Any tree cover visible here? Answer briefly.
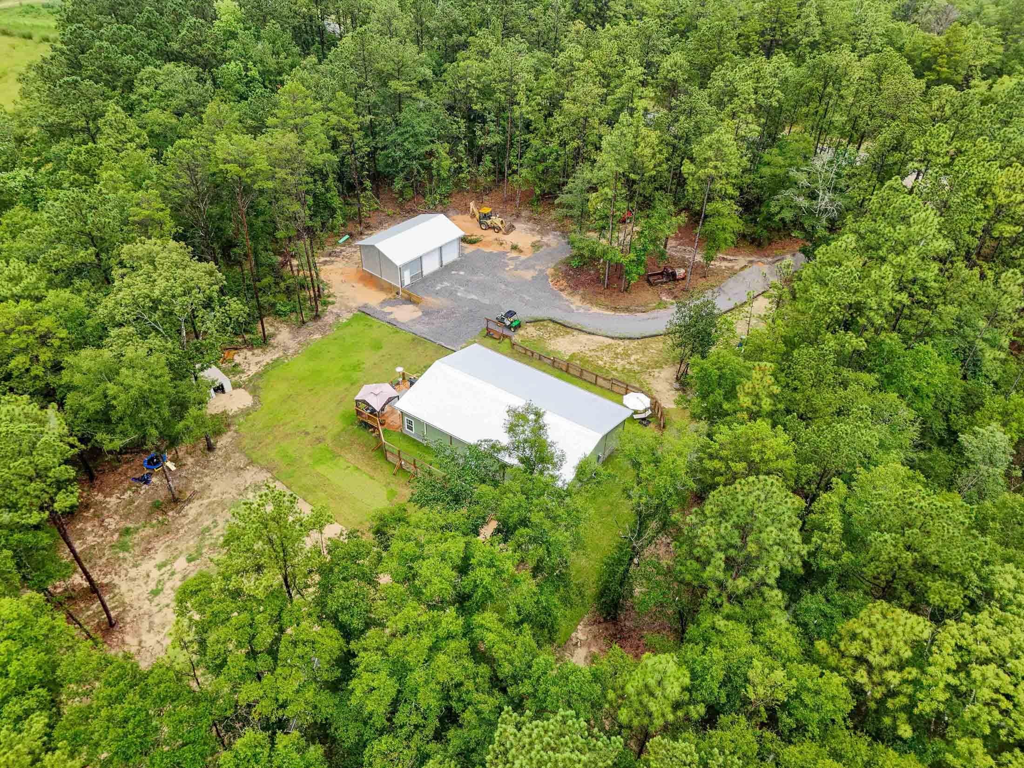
Yes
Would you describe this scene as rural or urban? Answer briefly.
rural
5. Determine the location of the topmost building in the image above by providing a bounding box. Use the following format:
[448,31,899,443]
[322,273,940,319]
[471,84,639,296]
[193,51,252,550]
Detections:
[355,214,465,295]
